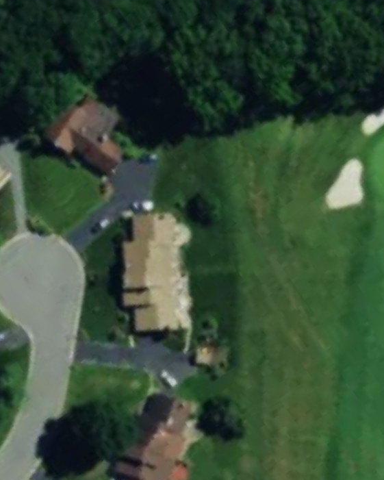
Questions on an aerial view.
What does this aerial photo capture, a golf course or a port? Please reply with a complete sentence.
This looks like a golf course.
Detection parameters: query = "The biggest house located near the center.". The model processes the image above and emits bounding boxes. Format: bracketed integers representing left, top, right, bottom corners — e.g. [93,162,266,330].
[123,214,196,330]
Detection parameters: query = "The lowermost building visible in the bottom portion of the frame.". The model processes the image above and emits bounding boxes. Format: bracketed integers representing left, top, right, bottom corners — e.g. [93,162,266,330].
[117,392,194,480]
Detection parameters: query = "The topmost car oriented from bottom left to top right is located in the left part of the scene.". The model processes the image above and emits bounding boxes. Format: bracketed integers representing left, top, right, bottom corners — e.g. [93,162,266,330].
[95,216,110,231]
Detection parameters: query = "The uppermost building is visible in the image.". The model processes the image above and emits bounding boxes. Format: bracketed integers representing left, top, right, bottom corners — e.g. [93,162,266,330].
[45,90,125,173]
